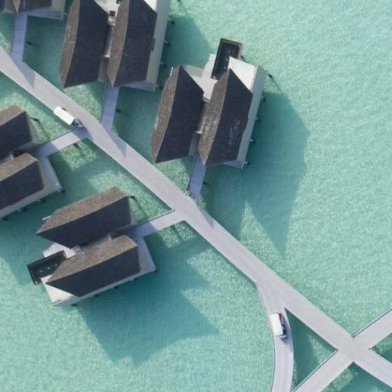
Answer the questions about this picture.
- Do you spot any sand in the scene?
Yes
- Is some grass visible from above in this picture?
No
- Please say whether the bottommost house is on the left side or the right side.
left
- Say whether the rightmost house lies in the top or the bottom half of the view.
top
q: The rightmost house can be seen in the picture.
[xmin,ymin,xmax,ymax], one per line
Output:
[152,51,278,174]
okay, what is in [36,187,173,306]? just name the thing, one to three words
house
